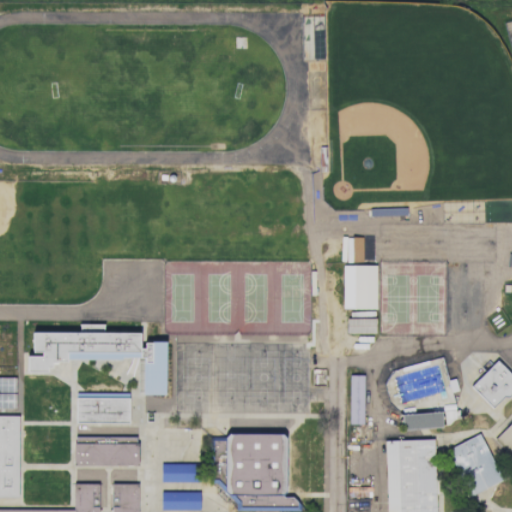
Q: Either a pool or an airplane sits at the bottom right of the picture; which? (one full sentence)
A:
What appears at the bottom right of the picture is a pool.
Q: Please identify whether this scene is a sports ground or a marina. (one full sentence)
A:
This looks like a sports ground.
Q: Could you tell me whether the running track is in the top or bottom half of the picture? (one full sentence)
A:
The top half of the photo is where the running track is.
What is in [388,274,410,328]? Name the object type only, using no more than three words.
tennis court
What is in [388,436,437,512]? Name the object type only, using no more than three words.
building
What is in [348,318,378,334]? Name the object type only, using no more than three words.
shed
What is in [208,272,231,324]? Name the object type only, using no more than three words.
tennis court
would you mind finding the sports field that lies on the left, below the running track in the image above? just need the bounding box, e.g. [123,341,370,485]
[0,171,310,304]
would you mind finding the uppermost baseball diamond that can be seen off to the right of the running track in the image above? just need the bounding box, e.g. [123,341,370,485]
[325,3,512,211]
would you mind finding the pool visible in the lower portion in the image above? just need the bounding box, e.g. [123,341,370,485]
[388,358,455,412]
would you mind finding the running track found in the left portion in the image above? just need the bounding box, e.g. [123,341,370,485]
[0,12,310,164]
